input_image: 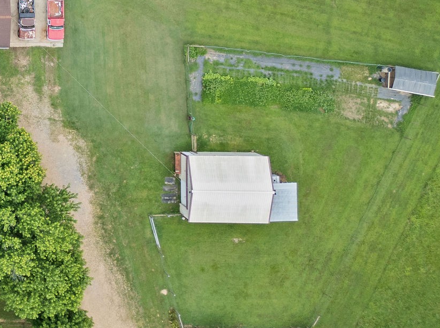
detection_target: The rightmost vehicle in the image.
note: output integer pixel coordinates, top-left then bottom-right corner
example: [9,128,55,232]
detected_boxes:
[46,0,65,44]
